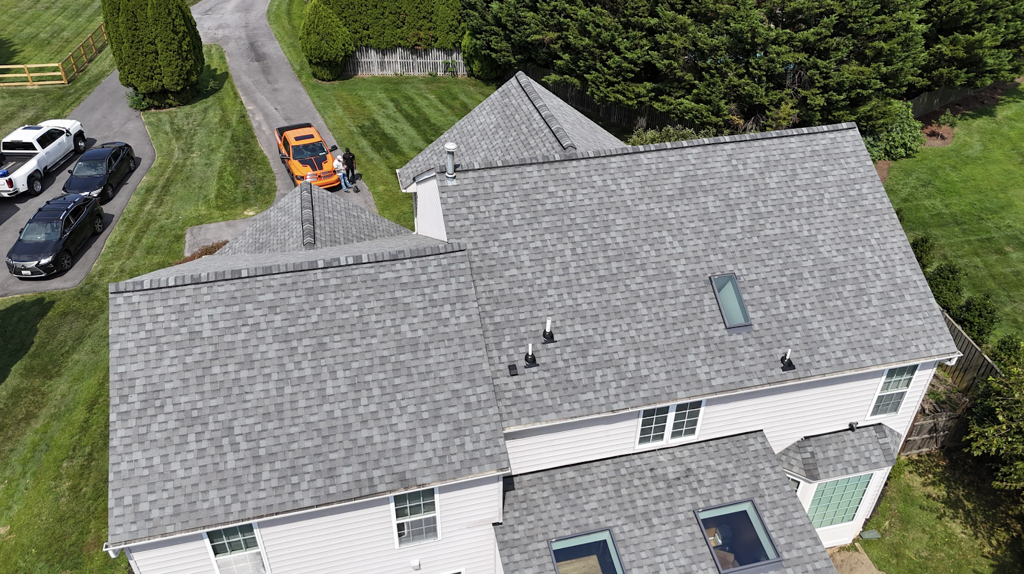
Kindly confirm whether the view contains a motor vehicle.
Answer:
Yes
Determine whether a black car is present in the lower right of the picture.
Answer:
No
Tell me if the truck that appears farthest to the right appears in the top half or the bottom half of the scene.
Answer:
top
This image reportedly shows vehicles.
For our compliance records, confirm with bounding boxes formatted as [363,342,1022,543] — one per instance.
[0,117,87,199]
[61,141,136,200]
[273,122,339,192]
[5,193,105,280]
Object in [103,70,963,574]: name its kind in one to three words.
house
